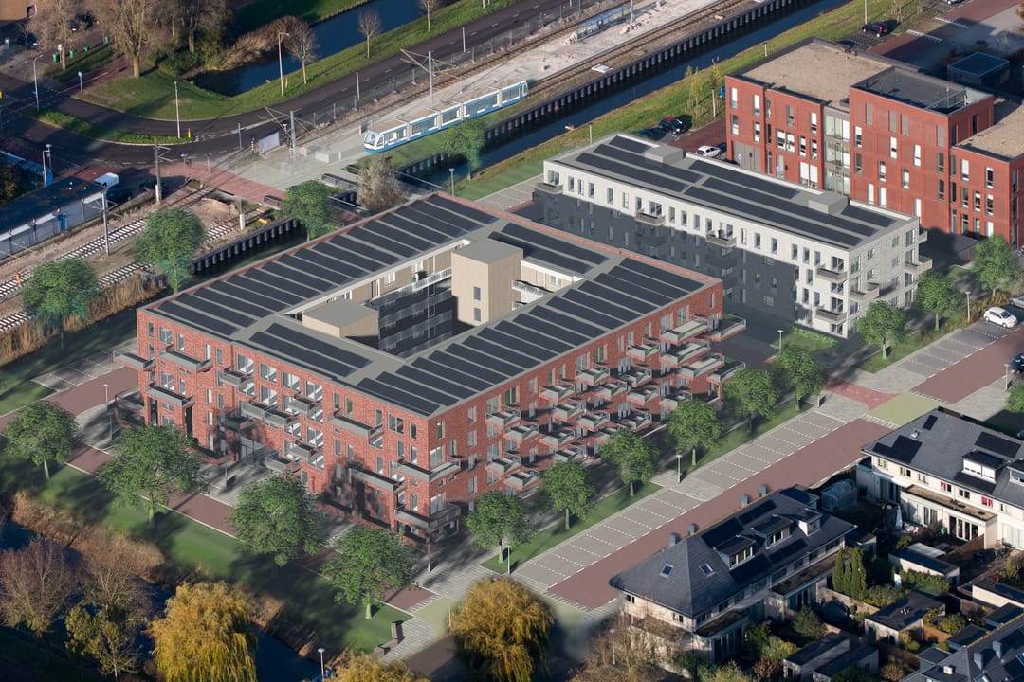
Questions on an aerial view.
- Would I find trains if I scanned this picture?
Yes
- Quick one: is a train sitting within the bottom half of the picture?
No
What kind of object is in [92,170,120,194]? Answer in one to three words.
vehicle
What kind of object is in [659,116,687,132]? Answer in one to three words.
car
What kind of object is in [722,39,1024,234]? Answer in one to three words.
building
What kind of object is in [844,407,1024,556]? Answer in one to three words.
house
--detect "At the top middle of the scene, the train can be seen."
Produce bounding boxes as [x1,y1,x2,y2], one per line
[359,77,519,154]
